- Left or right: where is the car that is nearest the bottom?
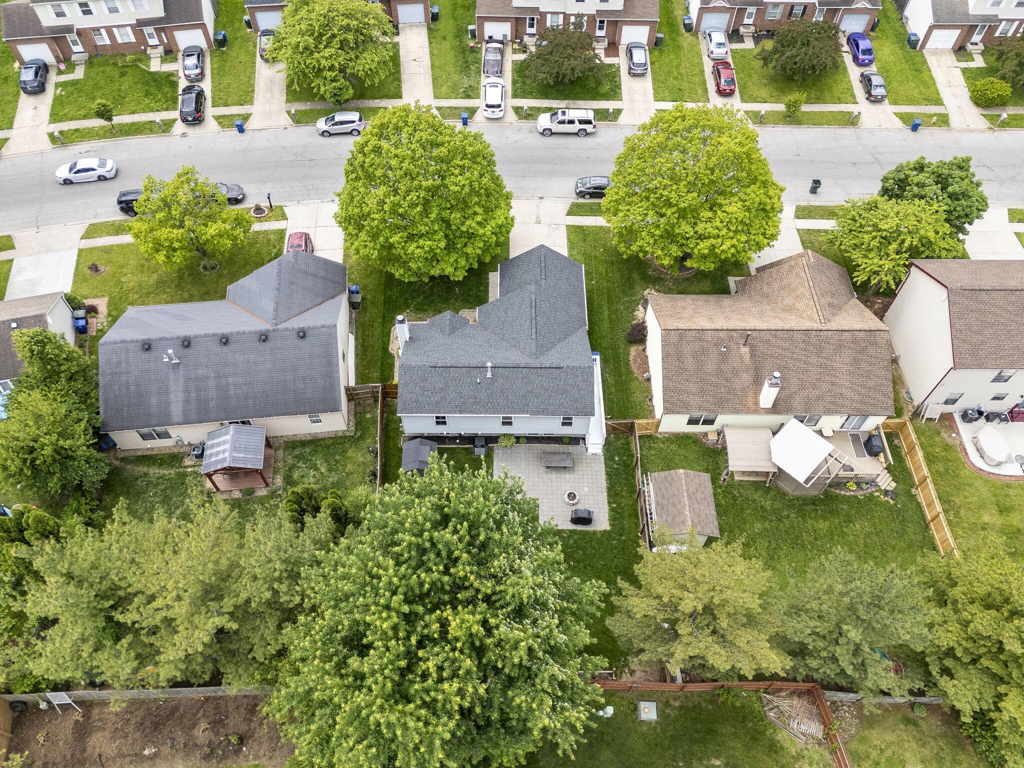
left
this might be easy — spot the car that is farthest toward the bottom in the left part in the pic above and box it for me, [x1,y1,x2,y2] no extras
[287,227,314,255]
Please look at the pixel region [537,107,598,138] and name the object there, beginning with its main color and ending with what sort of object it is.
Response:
white car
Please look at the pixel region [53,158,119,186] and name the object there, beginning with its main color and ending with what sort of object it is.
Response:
white car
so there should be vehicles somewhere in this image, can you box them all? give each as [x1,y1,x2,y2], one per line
[53,158,119,186]
[315,109,367,137]
[18,59,52,91]
[704,28,729,59]
[178,86,207,122]
[111,185,175,215]
[482,34,505,75]
[626,43,649,74]
[859,70,890,102]
[287,227,314,255]
[845,34,876,65]
[256,30,281,59]
[481,78,506,115]
[537,107,598,138]
[577,175,619,200]
[180,47,206,80]
[712,61,737,94]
